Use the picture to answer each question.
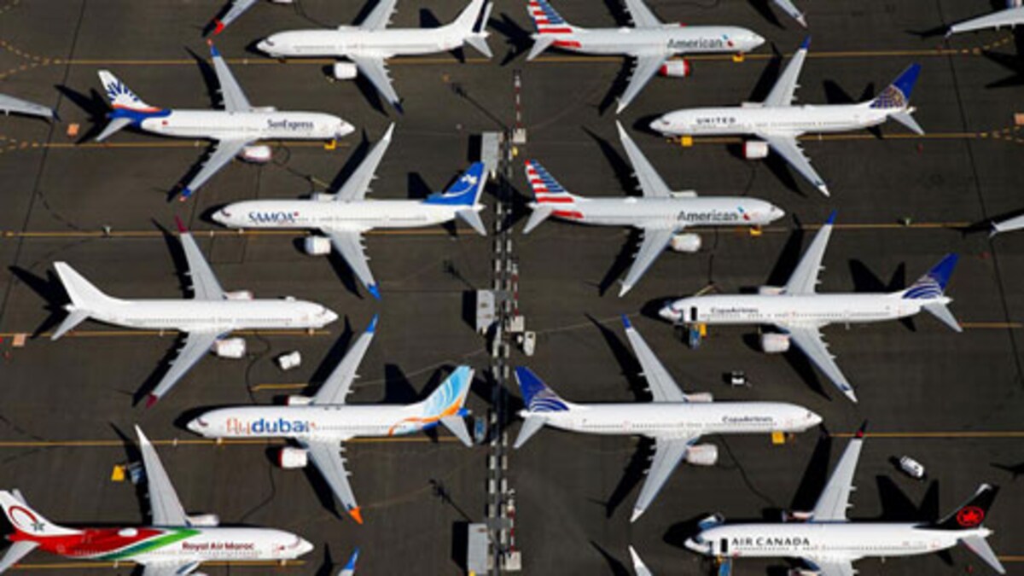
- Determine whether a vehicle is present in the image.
Yes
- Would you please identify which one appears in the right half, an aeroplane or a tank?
aeroplane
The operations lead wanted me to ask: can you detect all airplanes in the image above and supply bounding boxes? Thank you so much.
[207,0,251,34]
[768,0,806,30]
[257,0,494,115]
[631,546,654,576]
[0,427,314,576]
[526,122,785,299]
[659,210,961,404]
[683,422,1003,576]
[989,213,1024,235]
[515,312,821,525]
[213,125,488,301]
[187,314,473,526]
[54,217,339,410]
[942,0,1024,33]
[0,92,63,118]
[98,40,356,202]
[528,0,764,114]
[650,35,924,198]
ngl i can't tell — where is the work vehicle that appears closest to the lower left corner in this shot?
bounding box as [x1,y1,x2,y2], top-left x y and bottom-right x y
[278,351,300,368]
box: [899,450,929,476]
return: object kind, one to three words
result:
vehicle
